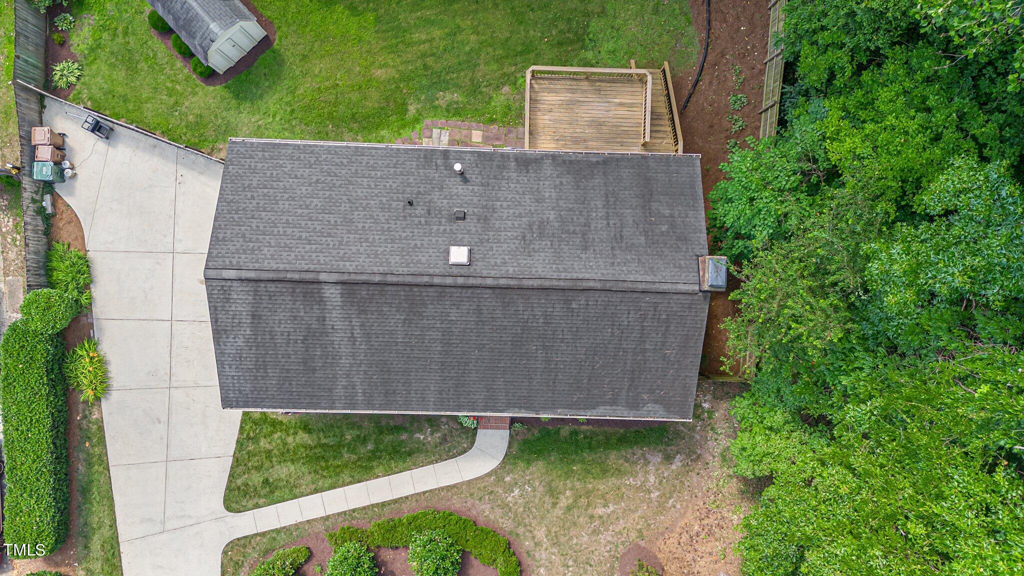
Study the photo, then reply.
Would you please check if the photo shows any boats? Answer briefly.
No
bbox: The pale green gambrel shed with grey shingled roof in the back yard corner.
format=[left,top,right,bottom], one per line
[147,0,268,76]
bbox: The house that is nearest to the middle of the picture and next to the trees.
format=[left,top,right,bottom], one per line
[203,139,729,422]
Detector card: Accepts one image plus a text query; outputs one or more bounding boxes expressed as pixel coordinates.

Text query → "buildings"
[203,139,729,422]
[147,0,268,76]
